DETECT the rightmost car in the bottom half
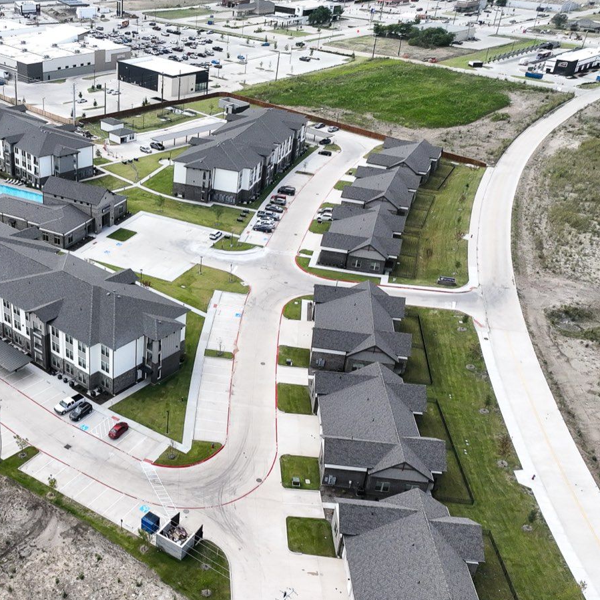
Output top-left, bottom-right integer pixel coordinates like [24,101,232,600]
[107,417,130,436]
